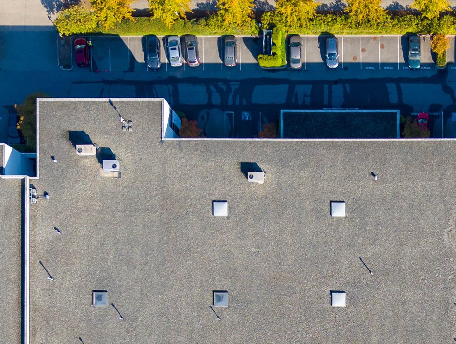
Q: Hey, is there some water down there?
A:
No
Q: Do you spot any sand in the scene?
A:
No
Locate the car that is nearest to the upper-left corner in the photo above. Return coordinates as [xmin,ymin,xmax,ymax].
[74,38,91,70]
